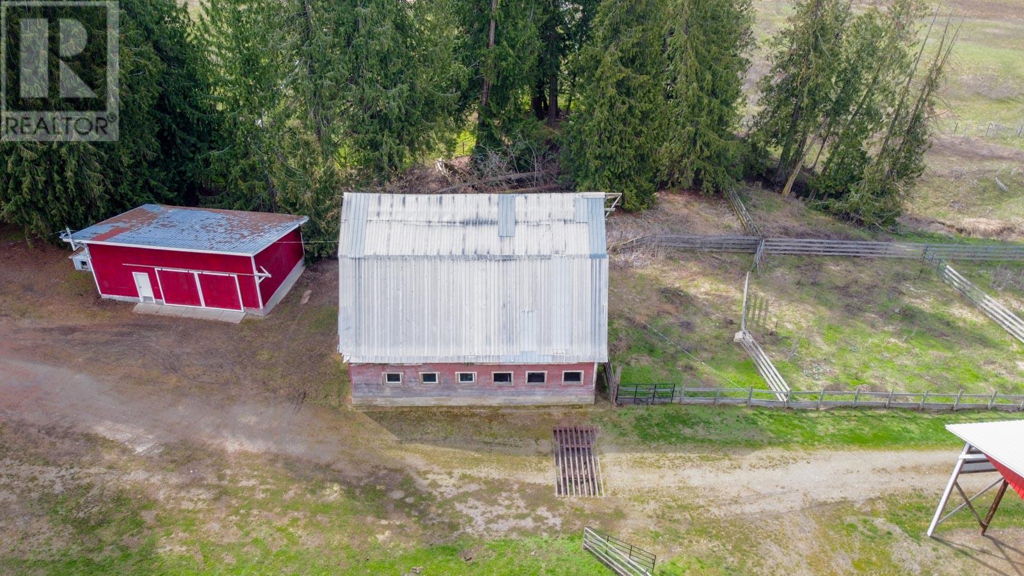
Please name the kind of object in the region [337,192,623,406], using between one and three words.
barn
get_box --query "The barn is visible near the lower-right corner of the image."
[927,423,1024,538]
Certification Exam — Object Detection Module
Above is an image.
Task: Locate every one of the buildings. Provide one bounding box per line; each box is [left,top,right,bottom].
[337,192,623,406]
[927,423,1024,538]
[62,207,311,316]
